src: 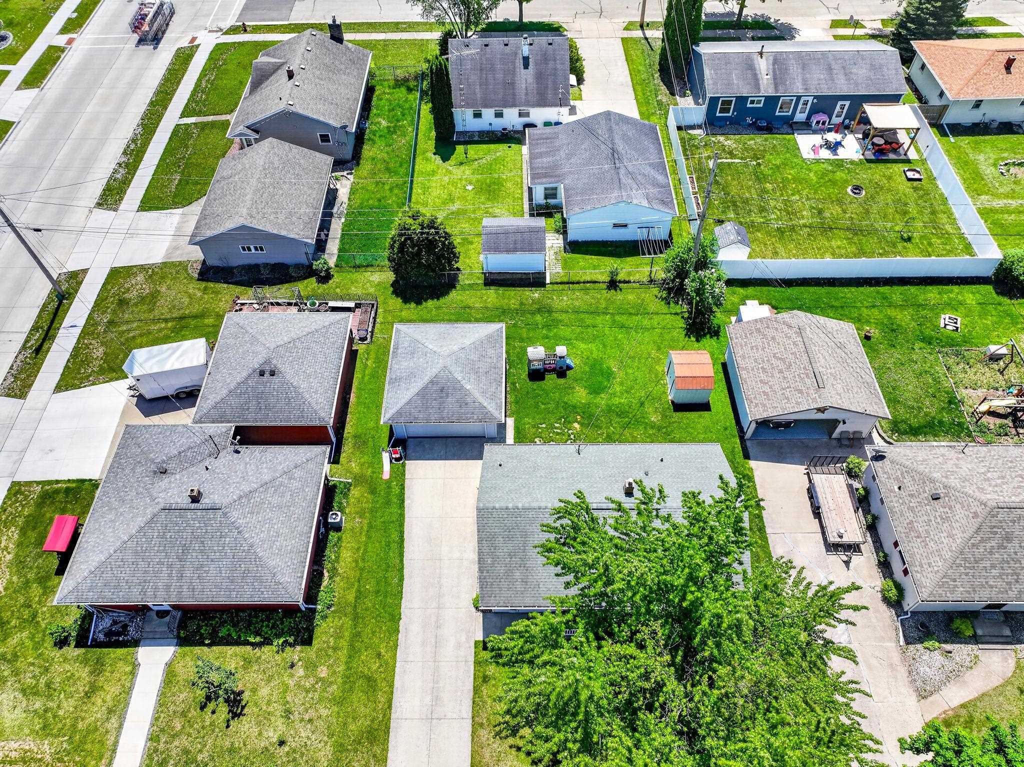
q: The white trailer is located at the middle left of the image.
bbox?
[120,338,212,396]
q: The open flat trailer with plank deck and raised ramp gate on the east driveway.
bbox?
[808,454,868,569]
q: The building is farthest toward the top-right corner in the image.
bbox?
[908,39,1024,137]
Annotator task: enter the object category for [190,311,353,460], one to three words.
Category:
building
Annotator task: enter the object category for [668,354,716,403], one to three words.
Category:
shed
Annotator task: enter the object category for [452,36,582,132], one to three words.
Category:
house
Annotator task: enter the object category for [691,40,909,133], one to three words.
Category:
house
